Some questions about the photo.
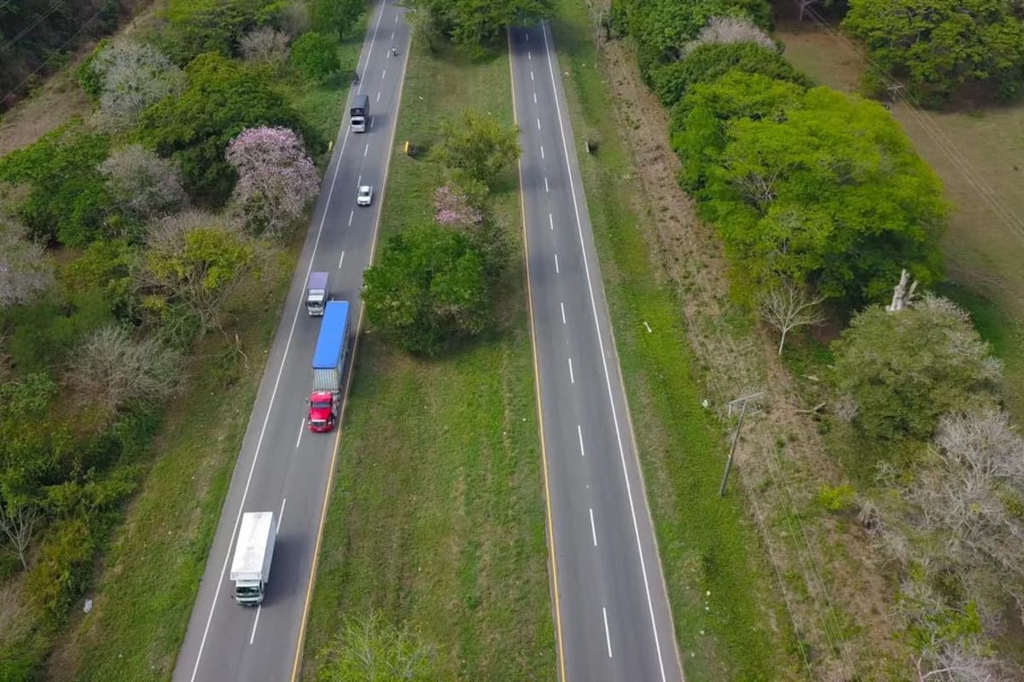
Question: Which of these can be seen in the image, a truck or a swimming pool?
truck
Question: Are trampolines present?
No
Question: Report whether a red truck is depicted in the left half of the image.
Yes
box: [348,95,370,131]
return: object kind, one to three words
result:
truck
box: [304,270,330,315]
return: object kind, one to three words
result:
truck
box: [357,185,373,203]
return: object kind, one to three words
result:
car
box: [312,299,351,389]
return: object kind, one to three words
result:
trailer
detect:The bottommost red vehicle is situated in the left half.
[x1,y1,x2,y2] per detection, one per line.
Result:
[307,385,342,431]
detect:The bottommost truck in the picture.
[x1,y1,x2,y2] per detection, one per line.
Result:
[231,510,277,605]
